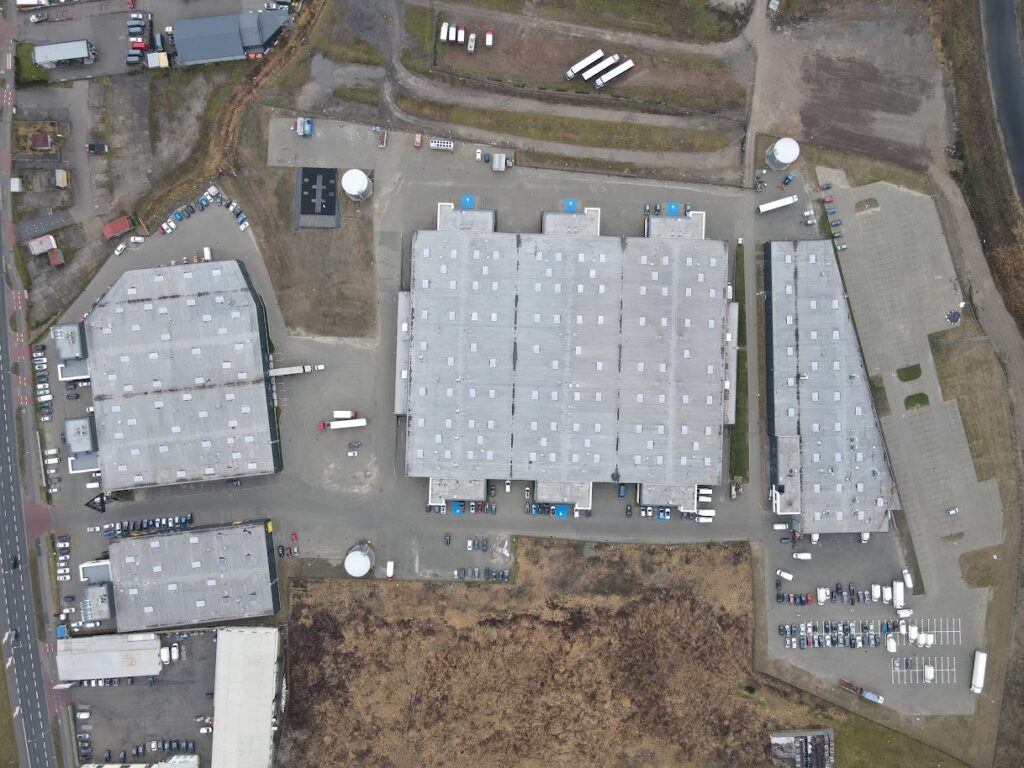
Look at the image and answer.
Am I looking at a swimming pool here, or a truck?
truck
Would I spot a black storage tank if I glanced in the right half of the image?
No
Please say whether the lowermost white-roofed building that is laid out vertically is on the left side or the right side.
left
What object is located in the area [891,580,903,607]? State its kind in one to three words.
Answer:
vehicle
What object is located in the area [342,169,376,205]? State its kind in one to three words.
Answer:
storage tank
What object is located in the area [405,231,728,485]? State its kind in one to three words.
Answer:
building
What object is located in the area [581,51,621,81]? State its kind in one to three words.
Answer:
truck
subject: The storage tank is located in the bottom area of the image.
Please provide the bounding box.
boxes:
[344,542,379,577]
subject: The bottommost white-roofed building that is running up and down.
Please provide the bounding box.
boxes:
[212,623,283,768]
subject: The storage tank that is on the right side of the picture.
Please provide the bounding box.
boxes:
[762,137,800,174]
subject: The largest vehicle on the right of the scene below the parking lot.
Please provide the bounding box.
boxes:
[970,649,987,693]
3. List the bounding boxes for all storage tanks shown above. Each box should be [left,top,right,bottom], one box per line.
[342,169,376,205]
[344,542,379,577]
[762,137,800,174]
